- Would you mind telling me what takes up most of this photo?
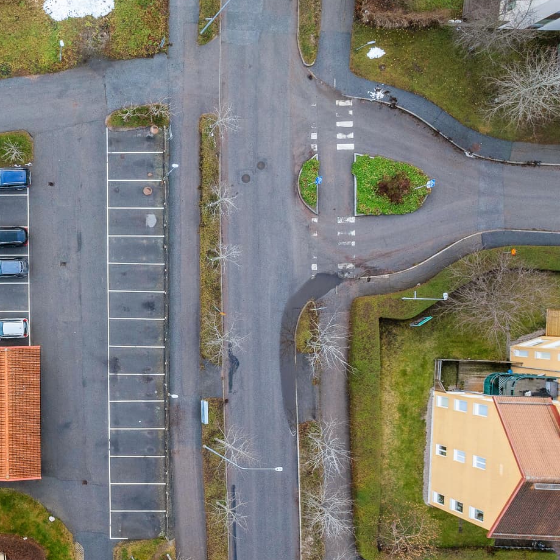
paved ground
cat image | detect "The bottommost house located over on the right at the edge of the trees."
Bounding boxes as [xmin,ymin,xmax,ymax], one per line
[430,392,560,539]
